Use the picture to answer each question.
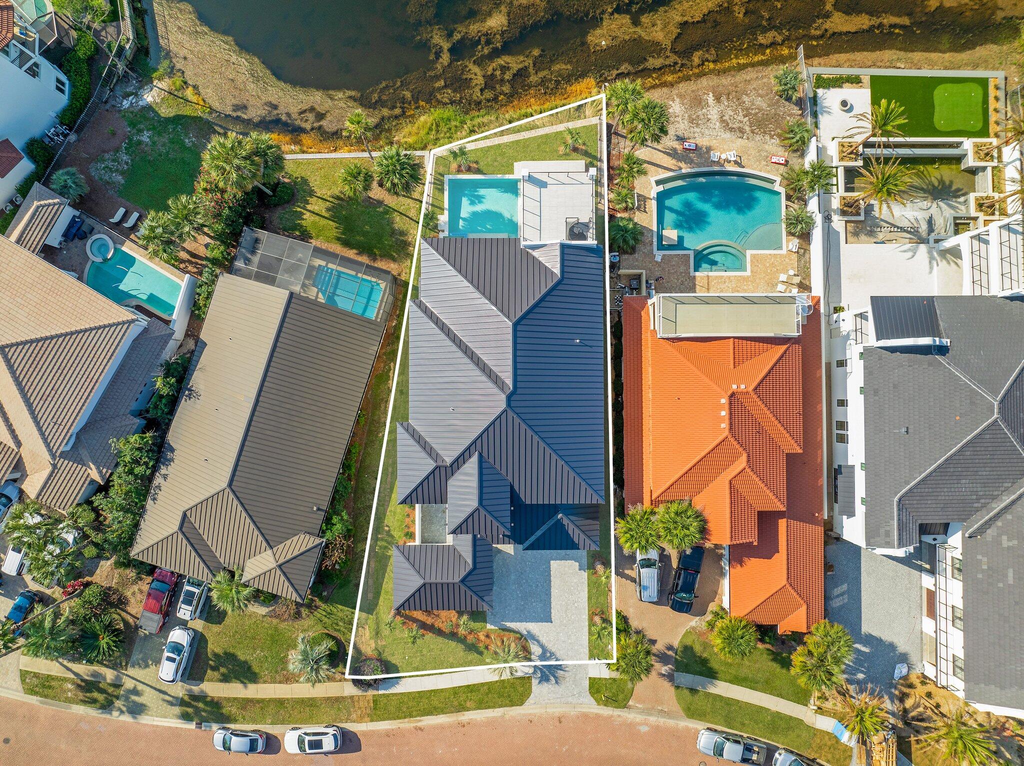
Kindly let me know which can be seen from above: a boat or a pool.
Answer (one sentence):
The image shows a pool.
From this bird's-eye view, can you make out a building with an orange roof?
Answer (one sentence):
Yes, there is a building with an orange roof in the image.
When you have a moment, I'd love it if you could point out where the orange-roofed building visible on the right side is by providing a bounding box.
[623,294,825,634]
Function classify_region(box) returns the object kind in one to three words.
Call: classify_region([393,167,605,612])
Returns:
house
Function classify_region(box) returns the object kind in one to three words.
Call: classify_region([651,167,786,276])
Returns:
swimming pool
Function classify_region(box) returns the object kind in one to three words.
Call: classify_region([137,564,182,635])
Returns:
truck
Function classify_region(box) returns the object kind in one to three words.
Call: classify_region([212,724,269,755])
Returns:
car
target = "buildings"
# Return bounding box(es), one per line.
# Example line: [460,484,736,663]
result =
[393,167,605,612]
[129,272,388,604]
[0,181,186,513]
[0,0,68,202]
[829,211,1024,713]
[623,294,825,634]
